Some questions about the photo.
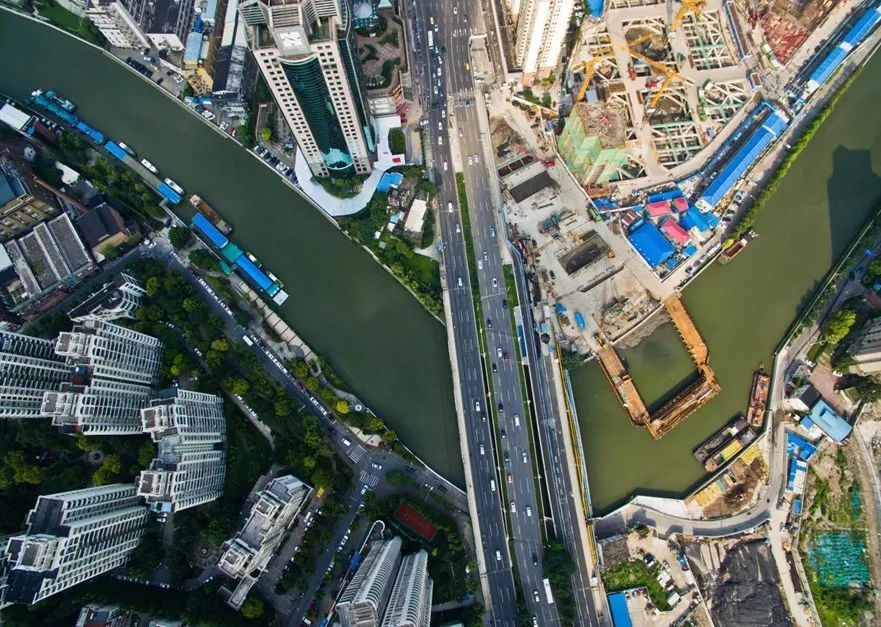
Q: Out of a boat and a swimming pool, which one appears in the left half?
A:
boat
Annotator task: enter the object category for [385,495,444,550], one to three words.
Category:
sports court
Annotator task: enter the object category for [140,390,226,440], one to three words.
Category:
building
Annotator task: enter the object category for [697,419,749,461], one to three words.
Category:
ship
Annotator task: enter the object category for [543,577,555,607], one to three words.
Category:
vehicle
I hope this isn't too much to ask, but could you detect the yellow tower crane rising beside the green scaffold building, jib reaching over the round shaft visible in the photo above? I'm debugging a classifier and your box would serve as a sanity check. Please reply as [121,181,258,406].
[568,30,657,102]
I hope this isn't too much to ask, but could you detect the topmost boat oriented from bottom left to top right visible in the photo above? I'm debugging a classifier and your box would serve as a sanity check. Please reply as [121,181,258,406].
[722,231,757,262]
